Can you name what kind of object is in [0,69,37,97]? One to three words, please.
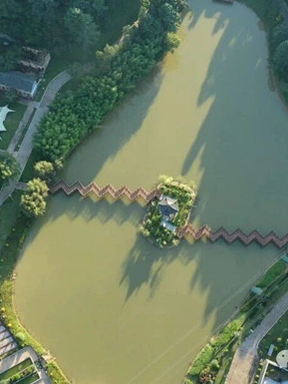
house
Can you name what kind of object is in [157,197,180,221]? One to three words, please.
building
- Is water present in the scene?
Yes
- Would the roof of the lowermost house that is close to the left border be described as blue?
Yes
